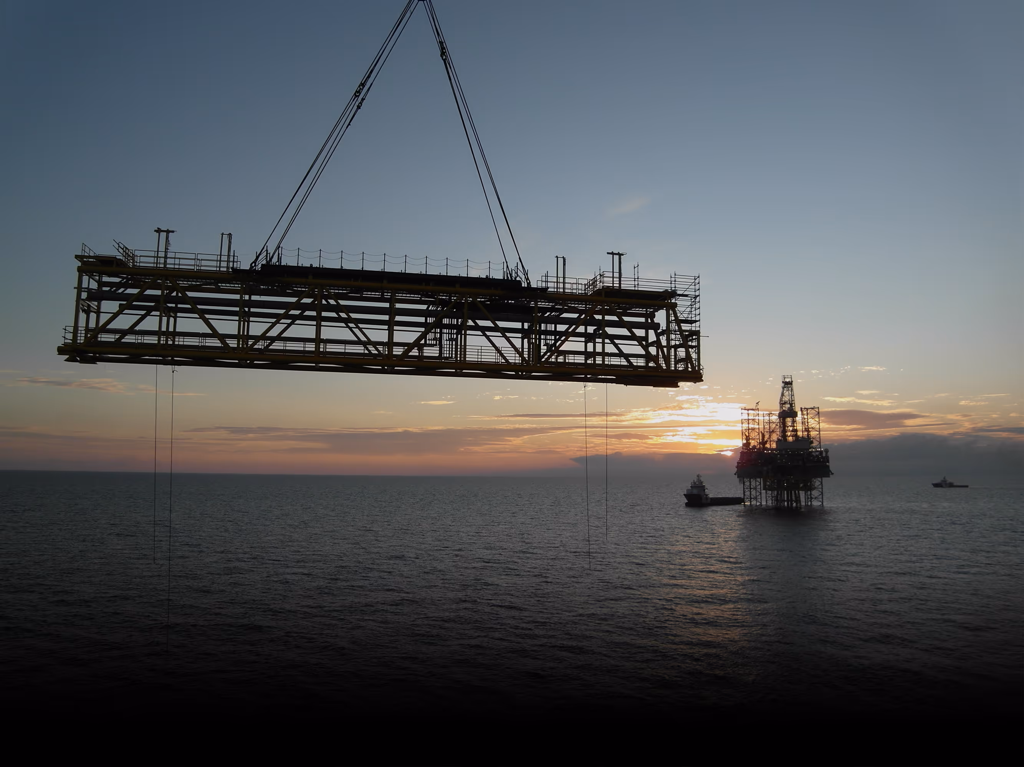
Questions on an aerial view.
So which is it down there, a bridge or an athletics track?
bridge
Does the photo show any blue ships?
No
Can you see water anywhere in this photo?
Yes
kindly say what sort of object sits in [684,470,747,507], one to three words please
ship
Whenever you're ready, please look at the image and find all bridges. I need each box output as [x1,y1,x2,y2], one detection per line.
[56,227,706,388]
